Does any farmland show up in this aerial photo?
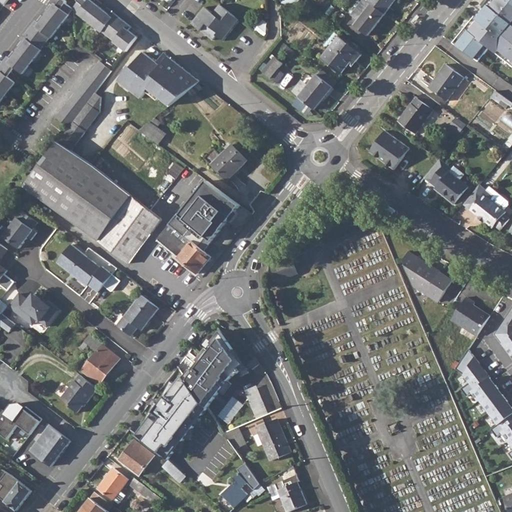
No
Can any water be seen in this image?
No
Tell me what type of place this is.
residential area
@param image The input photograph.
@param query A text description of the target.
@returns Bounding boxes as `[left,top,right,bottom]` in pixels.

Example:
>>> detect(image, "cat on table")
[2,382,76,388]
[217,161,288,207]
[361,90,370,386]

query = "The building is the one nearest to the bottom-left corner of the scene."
[0,469,32,511]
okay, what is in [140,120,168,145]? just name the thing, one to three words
shed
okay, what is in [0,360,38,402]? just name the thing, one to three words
building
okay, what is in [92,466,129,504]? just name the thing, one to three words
house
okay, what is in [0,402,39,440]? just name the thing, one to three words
house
